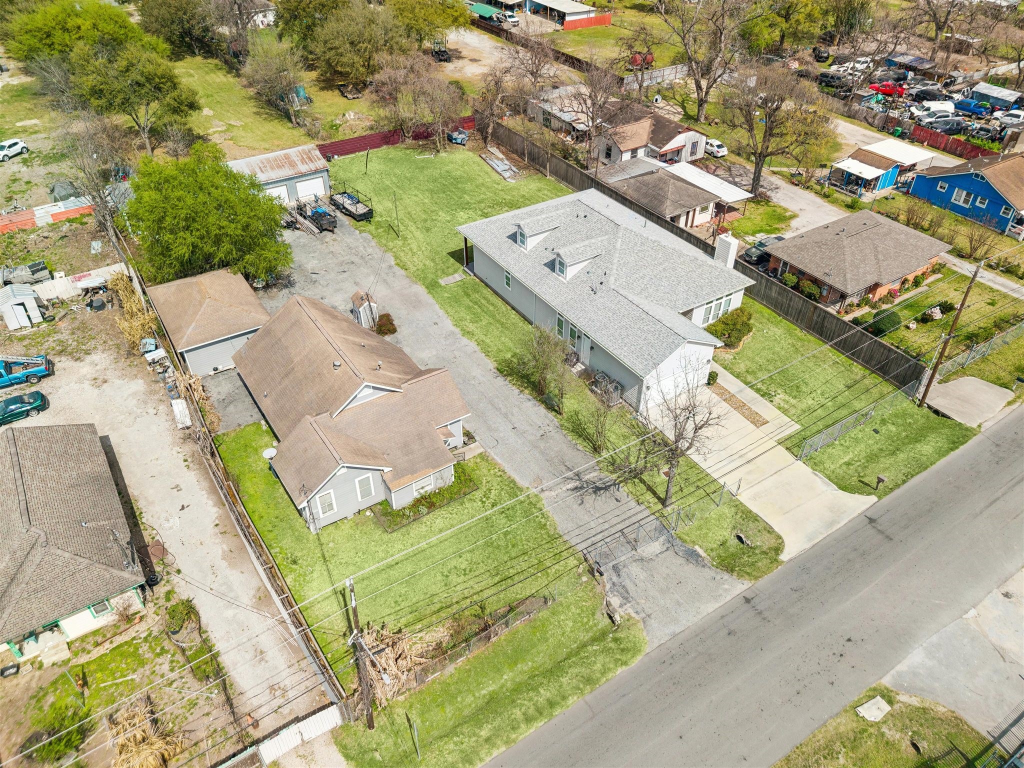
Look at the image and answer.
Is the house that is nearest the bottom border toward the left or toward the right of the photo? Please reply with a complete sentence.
The house that is nearest the bottom border sits on the left side.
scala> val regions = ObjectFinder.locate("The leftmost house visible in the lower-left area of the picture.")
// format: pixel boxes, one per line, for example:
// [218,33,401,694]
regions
[0,422,150,708]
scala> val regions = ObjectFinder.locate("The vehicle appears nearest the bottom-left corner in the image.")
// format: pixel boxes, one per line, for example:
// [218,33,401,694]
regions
[0,385,48,421]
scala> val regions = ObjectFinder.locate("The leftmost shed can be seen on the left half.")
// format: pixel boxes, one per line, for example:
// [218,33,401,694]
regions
[0,287,42,330]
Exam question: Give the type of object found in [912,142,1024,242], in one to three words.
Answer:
house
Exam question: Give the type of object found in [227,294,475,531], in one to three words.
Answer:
house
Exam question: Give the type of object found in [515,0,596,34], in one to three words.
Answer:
building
